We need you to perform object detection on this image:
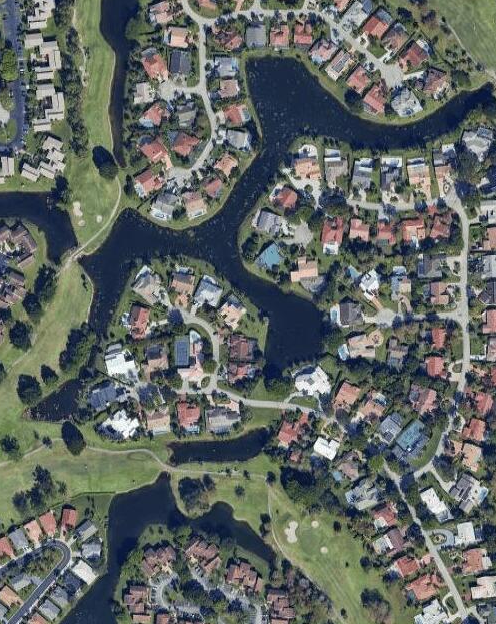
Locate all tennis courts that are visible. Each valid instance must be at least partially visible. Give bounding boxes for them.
[397,419,424,450]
